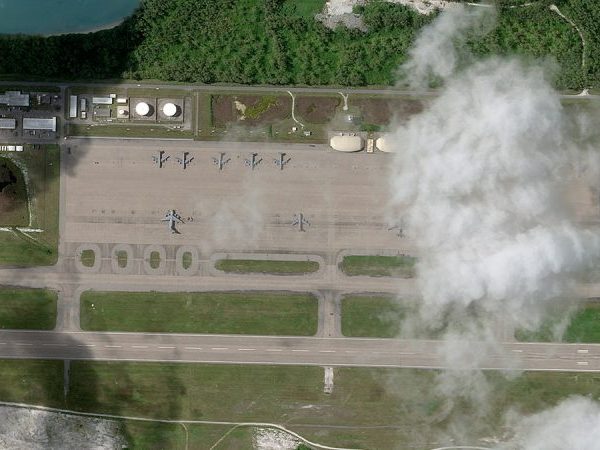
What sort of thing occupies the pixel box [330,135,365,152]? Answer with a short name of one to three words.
hangar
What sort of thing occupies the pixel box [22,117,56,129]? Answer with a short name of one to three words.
shed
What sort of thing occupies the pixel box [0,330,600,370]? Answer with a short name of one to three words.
runway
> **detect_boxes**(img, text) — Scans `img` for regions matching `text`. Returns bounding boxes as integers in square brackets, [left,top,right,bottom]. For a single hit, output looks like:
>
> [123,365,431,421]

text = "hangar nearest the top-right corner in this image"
[376,136,410,152]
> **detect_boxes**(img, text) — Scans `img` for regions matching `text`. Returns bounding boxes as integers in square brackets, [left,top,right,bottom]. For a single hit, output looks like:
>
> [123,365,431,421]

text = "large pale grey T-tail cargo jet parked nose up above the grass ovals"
[160,210,182,233]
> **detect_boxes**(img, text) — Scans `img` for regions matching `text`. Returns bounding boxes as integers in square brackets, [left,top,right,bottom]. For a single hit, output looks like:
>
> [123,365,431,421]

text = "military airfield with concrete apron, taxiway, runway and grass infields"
[0,131,600,397]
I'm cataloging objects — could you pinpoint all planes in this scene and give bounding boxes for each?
[272,152,290,171]
[175,151,193,169]
[151,150,168,168]
[244,153,261,171]
[212,153,229,171]
[292,213,309,231]
[160,210,182,233]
